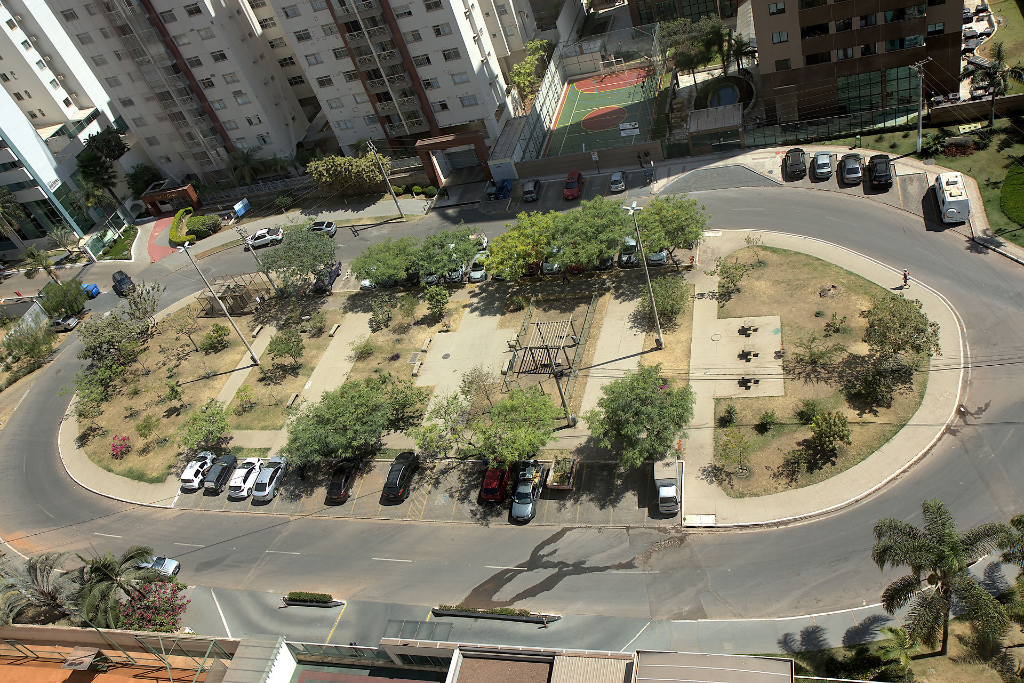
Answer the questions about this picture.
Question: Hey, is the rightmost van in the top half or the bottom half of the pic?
top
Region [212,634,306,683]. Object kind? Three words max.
building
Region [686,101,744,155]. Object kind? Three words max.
building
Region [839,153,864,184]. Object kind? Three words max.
car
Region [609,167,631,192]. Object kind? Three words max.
car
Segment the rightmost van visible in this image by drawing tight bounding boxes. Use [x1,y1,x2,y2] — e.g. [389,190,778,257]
[930,169,971,223]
